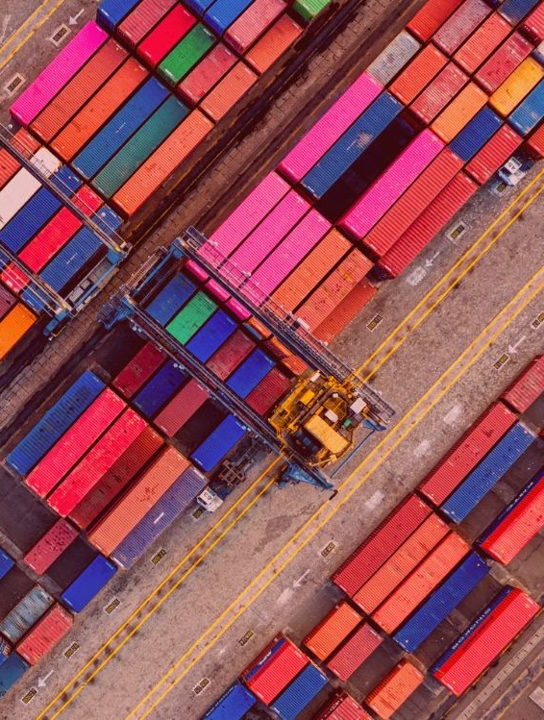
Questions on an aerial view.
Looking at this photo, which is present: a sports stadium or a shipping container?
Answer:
shipping container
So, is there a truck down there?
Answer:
Yes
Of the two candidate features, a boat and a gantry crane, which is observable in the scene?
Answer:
gantry crane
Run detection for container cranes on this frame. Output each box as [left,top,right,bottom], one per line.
[0,114,136,342]
[94,212,402,501]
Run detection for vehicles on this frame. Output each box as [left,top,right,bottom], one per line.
[489,144,535,192]
[193,431,272,514]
